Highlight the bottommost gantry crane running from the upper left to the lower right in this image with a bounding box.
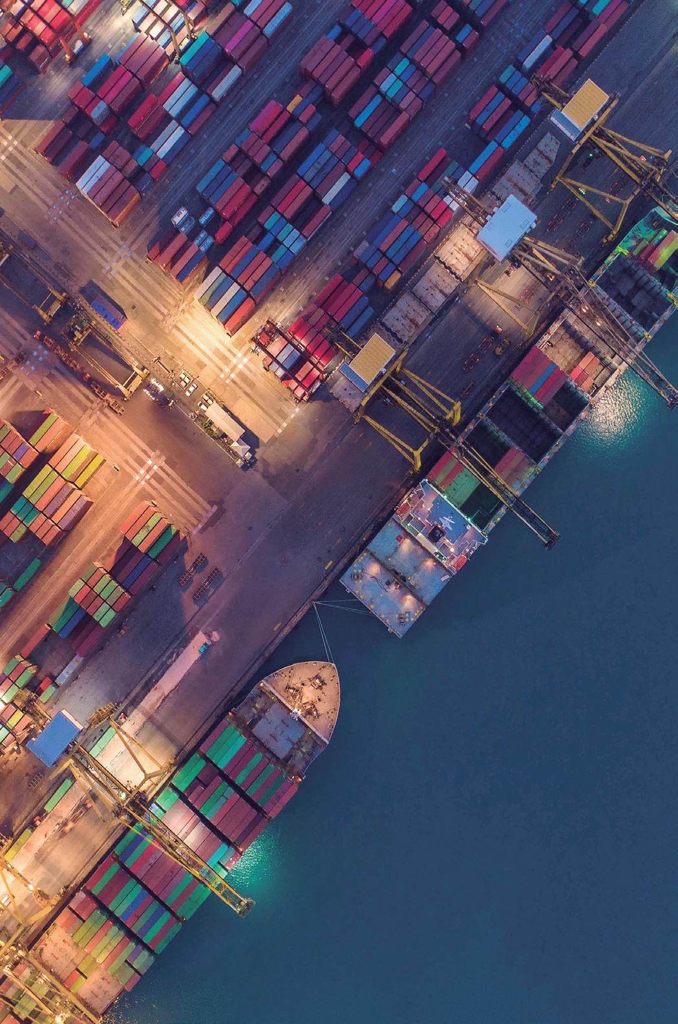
[8,693,250,929]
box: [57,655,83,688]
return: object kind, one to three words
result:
shipping container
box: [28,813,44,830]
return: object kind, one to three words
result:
vehicle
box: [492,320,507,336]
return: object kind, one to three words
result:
vehicle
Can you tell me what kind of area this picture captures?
port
